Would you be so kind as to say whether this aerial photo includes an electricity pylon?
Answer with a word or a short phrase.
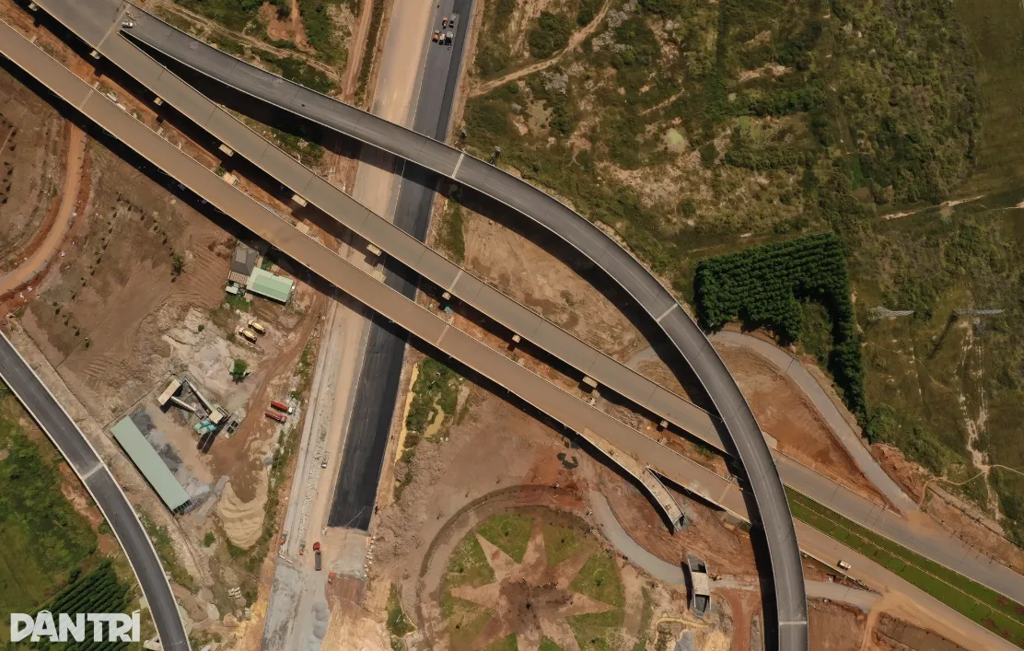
Yes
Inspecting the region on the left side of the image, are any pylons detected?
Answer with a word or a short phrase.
No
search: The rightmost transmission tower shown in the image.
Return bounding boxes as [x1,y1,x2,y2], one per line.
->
[949,307,1007,319]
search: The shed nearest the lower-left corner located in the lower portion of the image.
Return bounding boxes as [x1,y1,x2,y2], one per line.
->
[111,414,197,513]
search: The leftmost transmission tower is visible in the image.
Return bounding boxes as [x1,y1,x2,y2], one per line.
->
[863,302,915,326]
